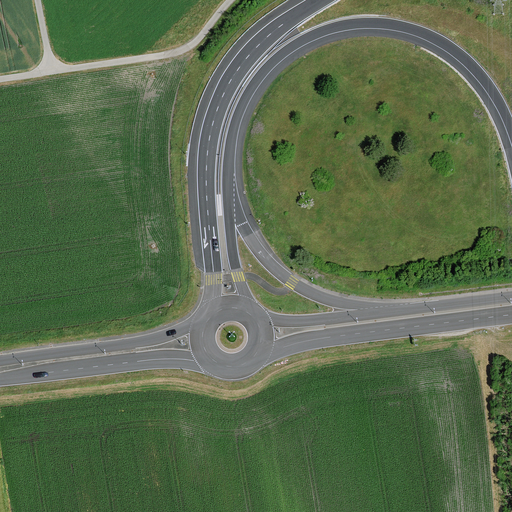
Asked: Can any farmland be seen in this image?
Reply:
Yes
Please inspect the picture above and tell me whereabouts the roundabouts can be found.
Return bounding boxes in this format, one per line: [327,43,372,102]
[190,294,274,380]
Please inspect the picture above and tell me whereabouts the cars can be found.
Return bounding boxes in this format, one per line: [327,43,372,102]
[33,371,48,378]
[166,330,176,336]
[212,238,218,252]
